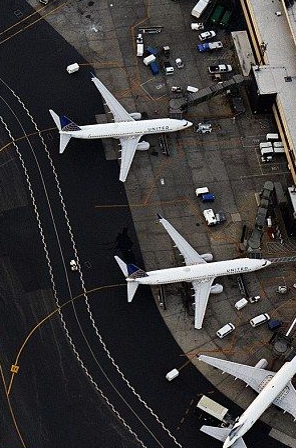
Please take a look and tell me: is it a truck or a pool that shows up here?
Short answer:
truck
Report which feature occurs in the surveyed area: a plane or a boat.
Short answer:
plane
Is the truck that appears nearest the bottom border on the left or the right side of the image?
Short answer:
right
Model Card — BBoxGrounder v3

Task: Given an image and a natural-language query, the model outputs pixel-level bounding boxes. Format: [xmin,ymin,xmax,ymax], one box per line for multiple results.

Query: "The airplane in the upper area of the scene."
[50,72,195,183]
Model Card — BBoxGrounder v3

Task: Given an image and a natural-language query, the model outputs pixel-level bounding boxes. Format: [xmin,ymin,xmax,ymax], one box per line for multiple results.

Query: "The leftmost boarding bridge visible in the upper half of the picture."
[170,72,253,118]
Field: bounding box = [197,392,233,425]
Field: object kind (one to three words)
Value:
truck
